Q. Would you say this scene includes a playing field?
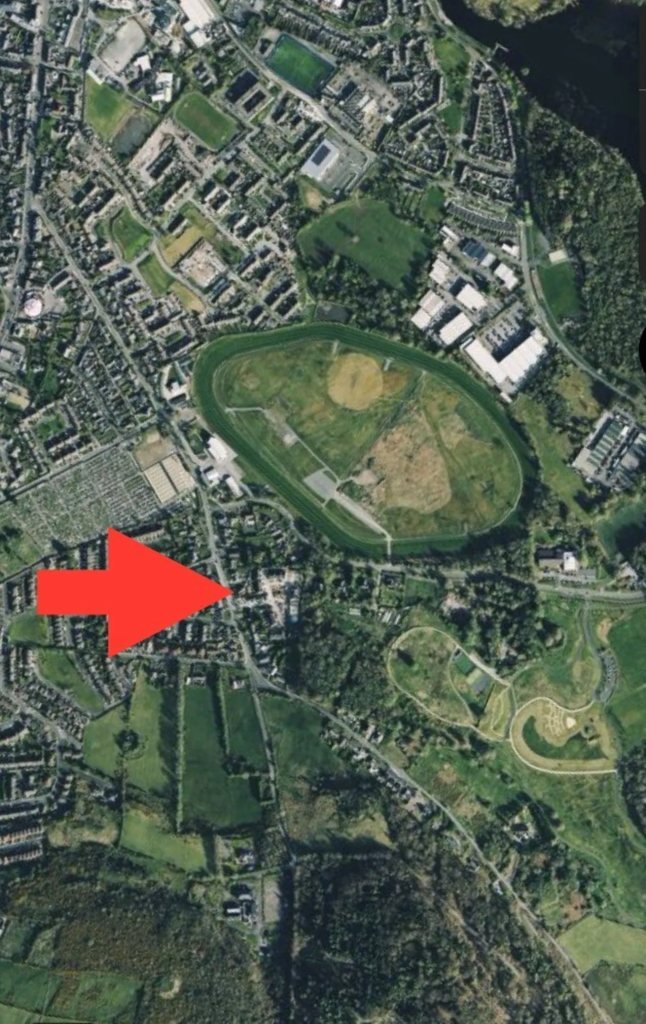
Yes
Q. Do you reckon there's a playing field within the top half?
Yes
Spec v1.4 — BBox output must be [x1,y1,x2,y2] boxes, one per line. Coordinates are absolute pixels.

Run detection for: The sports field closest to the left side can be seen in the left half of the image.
[85,74,129,141]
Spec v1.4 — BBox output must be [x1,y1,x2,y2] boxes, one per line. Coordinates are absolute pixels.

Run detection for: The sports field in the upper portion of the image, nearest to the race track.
[539,261,581,319]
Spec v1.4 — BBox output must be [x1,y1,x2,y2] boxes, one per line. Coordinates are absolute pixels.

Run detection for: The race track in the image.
[194,322,528,559]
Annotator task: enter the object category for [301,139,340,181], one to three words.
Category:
building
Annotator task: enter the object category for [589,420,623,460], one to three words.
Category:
house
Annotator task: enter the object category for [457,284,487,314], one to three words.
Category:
building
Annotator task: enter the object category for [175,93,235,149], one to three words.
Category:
sports field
